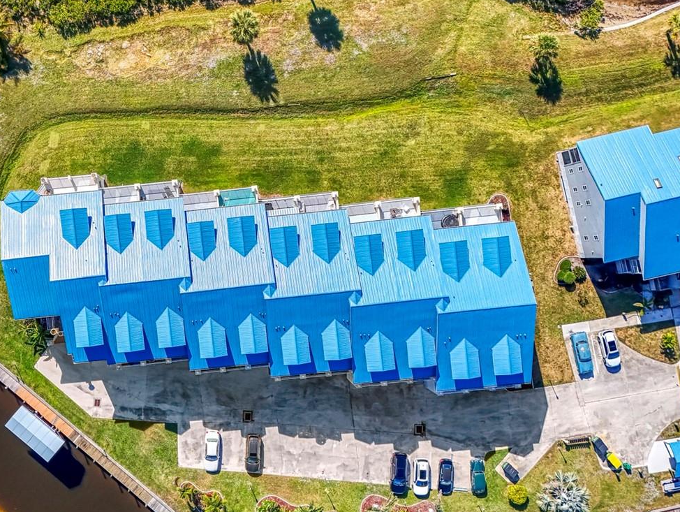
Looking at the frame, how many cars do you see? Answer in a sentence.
My tally gives 8 cars in this view.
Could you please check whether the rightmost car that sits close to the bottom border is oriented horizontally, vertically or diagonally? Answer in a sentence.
The rightmost car that sits close to the bottom border runs vertically in the image.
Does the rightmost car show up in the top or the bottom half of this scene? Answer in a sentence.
The rightmost car is in the bottom half of the image.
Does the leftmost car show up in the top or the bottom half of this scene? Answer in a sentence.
The leftmost car is in the bottom half of the image.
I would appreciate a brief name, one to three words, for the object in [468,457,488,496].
car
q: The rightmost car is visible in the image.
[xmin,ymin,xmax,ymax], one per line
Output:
[594,326,623,372]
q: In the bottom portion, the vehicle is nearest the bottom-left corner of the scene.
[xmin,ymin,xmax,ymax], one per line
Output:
[203,429,223,472]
